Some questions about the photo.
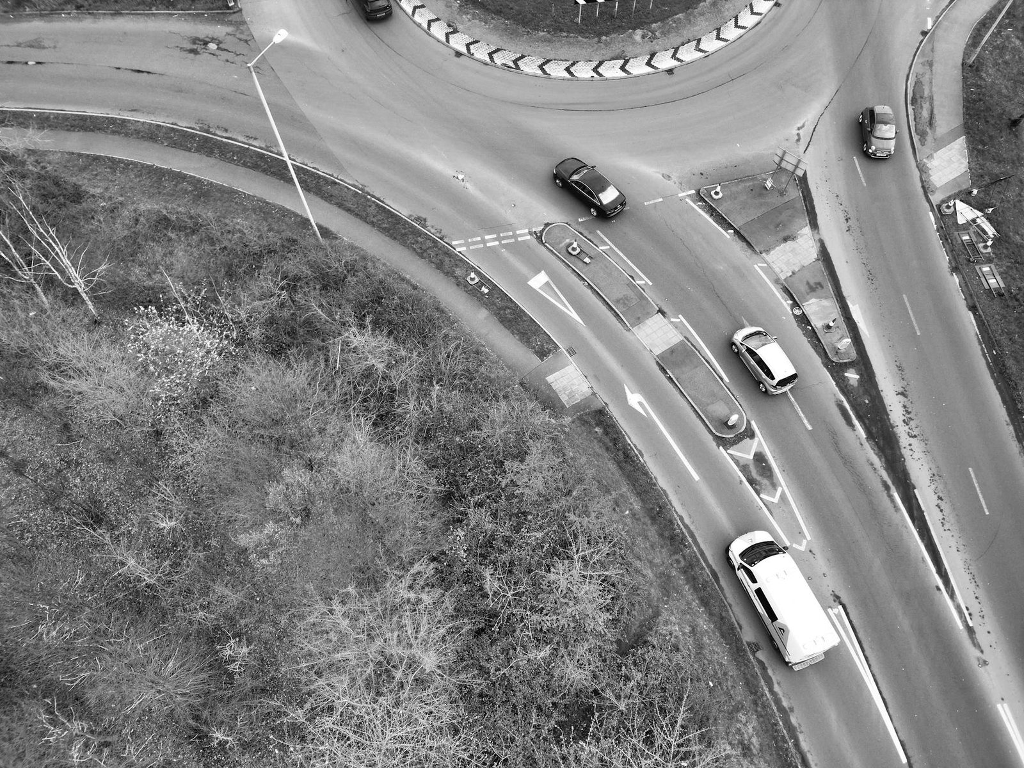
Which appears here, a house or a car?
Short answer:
car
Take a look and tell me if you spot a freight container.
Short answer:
No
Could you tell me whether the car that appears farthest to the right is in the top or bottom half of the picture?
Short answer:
top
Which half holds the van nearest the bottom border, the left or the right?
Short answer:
right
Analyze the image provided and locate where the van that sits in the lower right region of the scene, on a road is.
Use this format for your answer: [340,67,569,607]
[727,536,840,678]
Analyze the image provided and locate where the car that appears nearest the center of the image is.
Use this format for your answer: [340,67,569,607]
[553,156,628,221]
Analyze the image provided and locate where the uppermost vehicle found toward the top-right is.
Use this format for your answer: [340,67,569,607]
[858,104,901,159]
